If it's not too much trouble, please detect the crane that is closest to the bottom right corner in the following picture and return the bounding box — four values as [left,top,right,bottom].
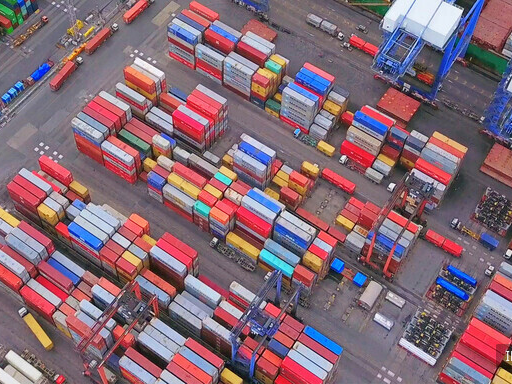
[358,169,437,277]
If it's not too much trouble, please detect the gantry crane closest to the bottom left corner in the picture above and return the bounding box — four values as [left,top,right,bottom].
[73,274,163,384]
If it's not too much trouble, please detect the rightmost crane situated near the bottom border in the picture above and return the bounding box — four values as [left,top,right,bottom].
[227,267,305,384]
